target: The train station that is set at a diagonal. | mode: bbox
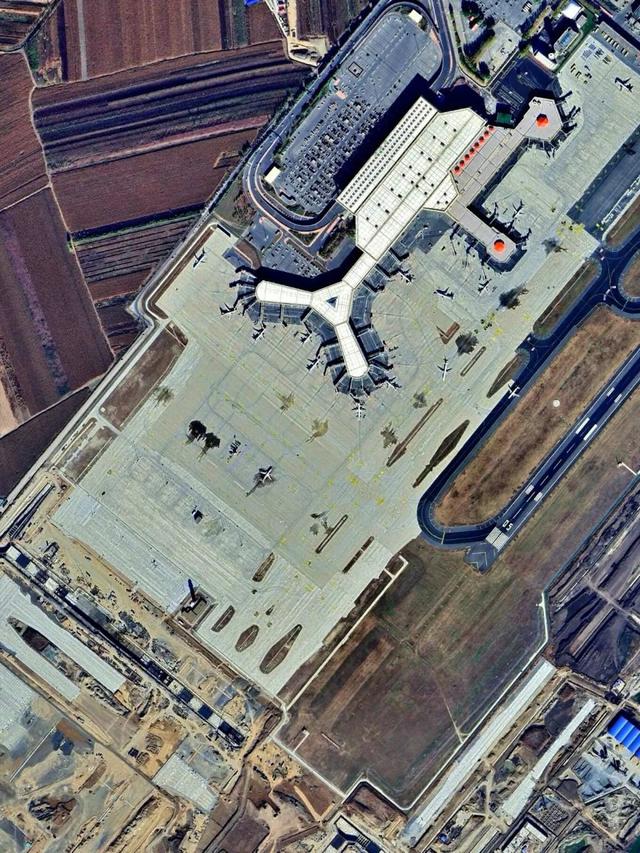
[0,541,247,750]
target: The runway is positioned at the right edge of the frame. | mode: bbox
[464,342,640,575]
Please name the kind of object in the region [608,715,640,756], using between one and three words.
shed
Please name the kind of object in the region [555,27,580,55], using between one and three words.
building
